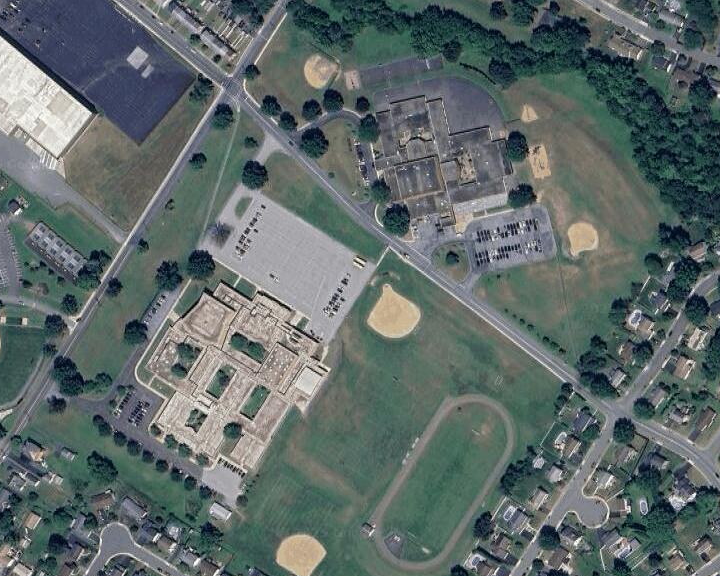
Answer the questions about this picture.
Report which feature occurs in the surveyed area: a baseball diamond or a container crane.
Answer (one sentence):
The one in the frame is a baseball diamond.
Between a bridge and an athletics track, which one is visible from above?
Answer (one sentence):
I can see an athletics track in this picture.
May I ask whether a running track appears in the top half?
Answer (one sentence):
No, no running track appears in the top half.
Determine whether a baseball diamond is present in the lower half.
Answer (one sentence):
Yes, I can see a baseball diamond in the lower half.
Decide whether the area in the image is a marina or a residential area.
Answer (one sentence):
The area seen from above is a residential area.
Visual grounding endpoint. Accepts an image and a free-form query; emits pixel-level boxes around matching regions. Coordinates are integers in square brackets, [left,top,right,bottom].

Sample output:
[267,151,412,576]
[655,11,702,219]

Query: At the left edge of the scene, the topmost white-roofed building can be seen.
[0,30,98,157]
